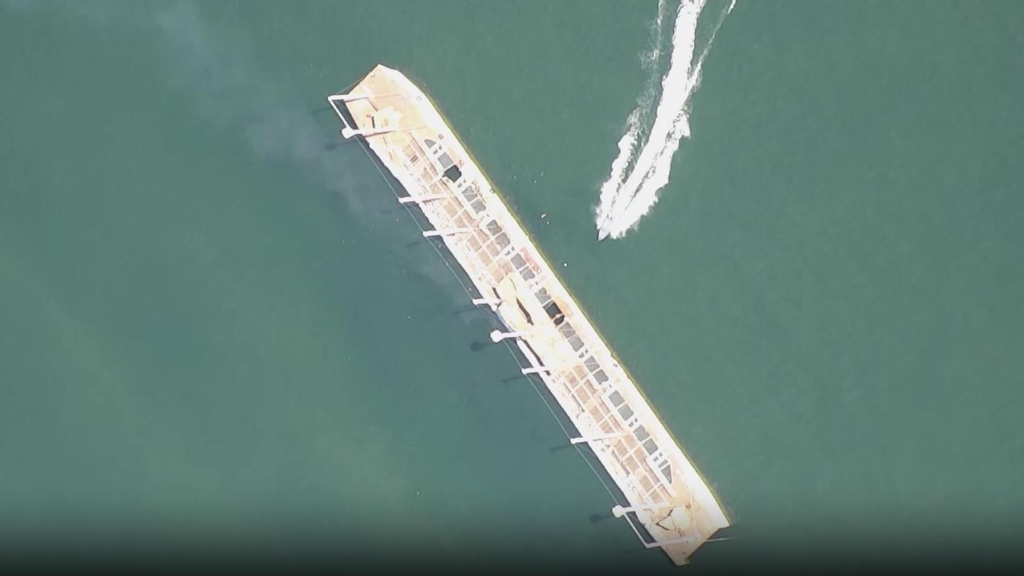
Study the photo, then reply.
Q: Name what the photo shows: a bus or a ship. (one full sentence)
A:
Looking from above, you can make out a ship.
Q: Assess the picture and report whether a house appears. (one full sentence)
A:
No, there's no house here.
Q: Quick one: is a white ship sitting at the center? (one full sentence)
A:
Yes, I can see a white ship at the center.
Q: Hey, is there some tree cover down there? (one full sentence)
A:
No, the picture contains no tree cover.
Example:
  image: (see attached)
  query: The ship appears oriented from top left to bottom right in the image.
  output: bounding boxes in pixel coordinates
[328,64,736,565]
